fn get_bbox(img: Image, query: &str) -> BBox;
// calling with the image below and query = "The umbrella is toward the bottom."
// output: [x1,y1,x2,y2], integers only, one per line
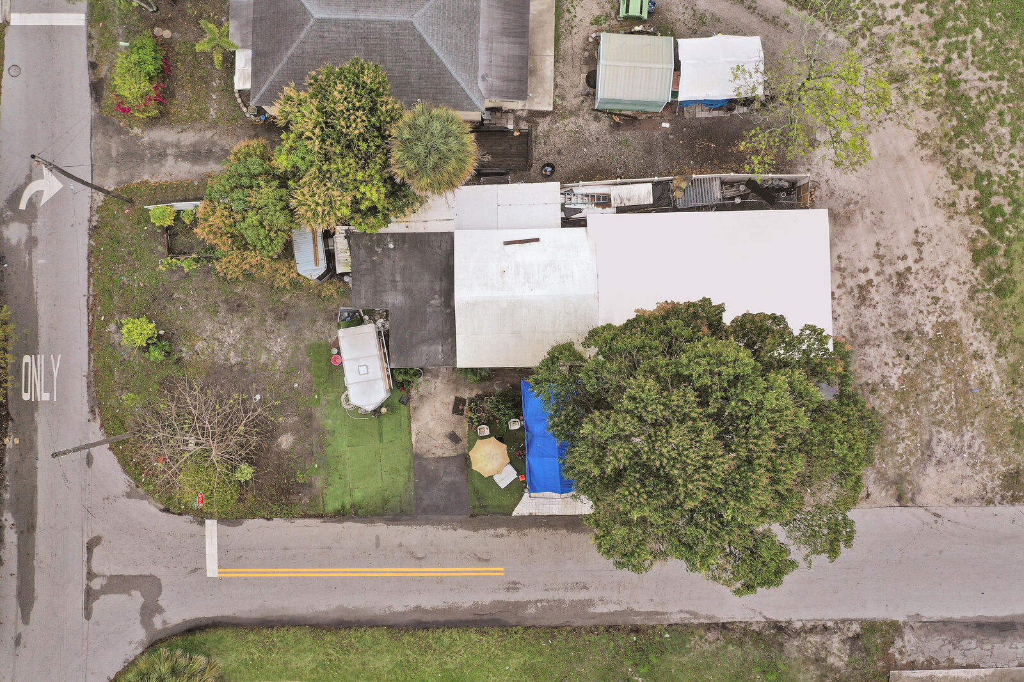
[468,437,510,478]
